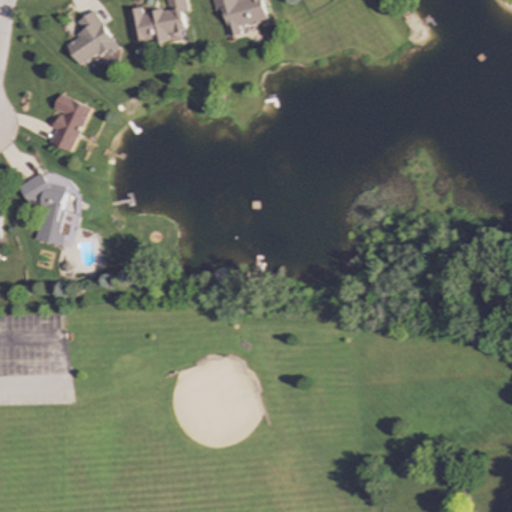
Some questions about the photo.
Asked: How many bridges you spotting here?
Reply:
0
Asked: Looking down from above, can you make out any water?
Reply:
Yes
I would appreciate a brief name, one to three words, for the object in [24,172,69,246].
house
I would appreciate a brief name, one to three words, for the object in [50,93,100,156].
house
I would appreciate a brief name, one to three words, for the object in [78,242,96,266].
swimming pool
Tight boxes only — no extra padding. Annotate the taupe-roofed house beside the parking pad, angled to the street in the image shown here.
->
[68,10,119,66]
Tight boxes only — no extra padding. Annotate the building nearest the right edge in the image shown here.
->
[214,0,270,37]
